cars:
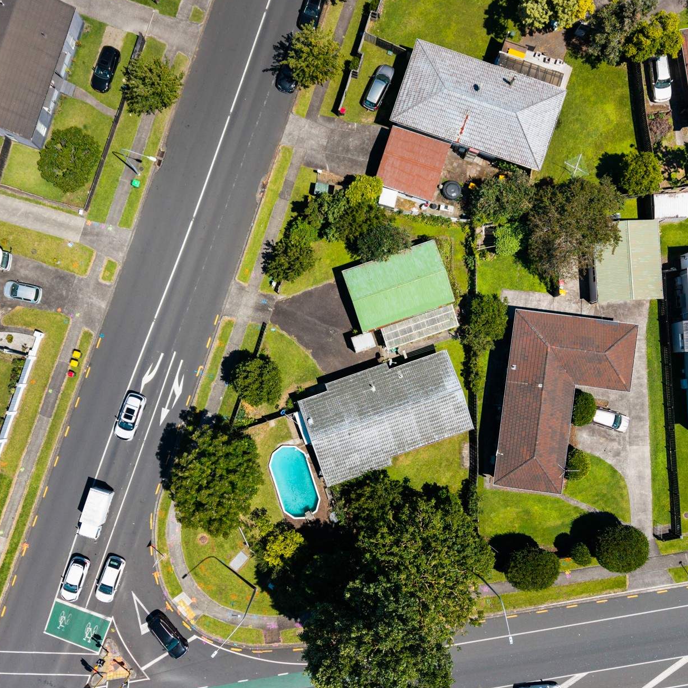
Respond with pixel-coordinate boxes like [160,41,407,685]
[362,64,393,115]
[114,390,149,441]
[584,407,630,433]
[275,59,299,96]
[147,606,188,660]
[648,55,676,105]
[3,278,46,305]
[296,0,325,29]
[95,553,128,602]
[89,44,123,96]
[516,679,562,688]
[60,552,94,602]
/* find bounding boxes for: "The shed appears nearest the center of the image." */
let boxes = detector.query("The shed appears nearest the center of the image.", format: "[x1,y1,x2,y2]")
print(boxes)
[351,332,376,352]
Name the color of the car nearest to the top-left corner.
black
